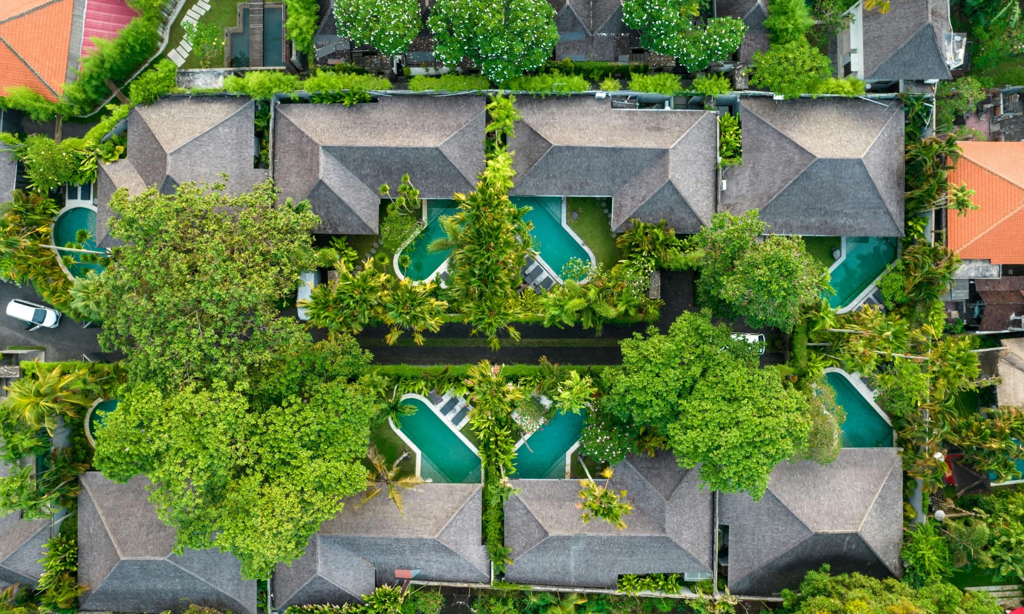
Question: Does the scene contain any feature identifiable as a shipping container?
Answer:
No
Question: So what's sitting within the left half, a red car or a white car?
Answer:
white car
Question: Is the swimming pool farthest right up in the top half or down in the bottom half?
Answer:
bottom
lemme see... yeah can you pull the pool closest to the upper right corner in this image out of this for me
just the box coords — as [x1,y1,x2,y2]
[806,237,905,319]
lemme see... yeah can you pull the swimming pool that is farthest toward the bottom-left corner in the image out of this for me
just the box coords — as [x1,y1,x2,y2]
[32,427,51,496]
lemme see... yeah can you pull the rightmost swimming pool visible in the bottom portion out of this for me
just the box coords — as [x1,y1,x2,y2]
[990,432,1024,485]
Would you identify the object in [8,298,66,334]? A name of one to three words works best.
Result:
car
